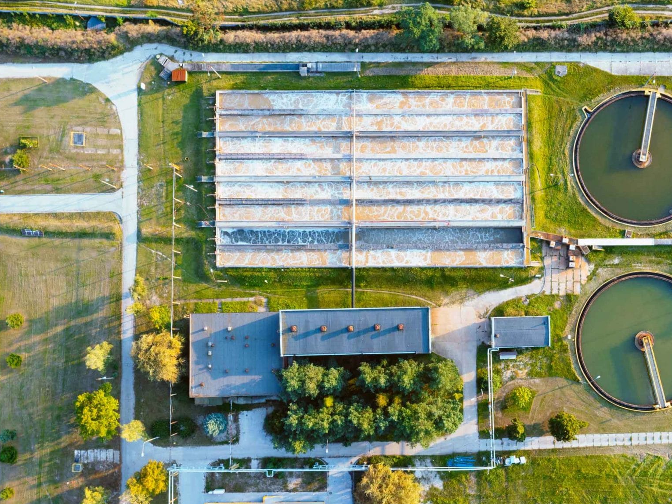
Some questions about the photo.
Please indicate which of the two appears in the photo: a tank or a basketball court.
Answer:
tank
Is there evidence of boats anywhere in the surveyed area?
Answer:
No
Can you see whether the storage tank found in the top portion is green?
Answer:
Yes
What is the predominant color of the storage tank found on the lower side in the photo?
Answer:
green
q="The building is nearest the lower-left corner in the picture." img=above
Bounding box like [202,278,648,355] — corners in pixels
[190,312,284,405]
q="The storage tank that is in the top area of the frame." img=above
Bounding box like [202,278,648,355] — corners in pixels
[573,89,672,227]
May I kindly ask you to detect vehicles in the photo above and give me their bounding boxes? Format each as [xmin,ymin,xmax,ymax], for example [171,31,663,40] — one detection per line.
[504,456,528,469]
[208,489,224,495]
